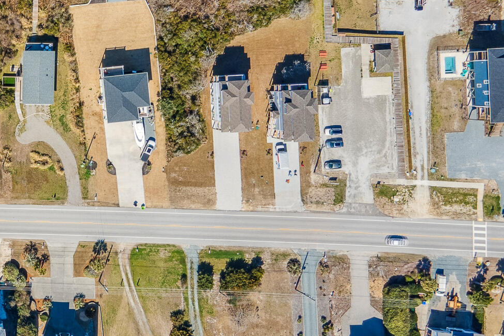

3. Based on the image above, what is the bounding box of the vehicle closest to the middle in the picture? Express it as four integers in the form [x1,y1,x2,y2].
[272,141,288,169]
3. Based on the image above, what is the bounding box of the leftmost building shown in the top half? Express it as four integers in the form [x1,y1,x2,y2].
[15,43,54,104]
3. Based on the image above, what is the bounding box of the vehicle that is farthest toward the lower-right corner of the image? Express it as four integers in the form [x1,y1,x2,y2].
[445,288,459,310]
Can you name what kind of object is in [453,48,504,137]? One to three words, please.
house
